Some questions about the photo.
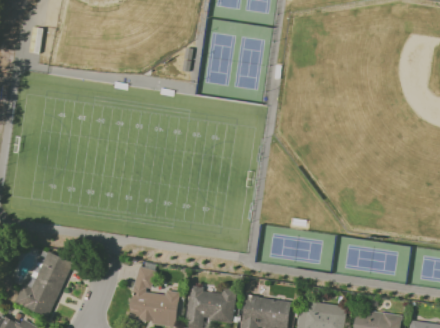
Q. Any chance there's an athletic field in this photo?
Yes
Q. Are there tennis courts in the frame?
Yes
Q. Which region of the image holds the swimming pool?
bottom left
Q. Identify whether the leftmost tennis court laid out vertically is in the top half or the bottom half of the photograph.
top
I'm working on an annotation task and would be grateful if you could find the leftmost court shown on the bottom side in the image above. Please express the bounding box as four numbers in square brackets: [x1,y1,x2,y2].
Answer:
[257,224,337,273]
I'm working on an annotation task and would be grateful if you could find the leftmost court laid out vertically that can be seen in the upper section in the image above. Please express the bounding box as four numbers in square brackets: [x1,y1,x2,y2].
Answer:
[196,16,244,100]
